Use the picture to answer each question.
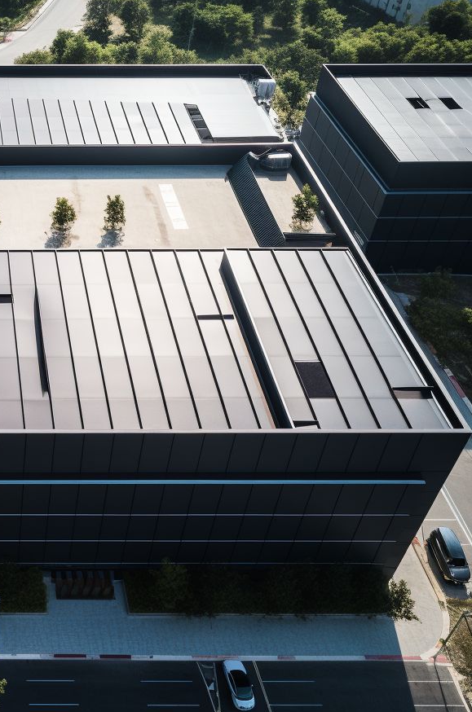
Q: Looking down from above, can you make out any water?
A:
No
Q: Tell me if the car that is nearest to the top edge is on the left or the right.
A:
right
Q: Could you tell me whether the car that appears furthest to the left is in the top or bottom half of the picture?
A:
bottom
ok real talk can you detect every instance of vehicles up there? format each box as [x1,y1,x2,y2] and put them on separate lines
[218,661,257,712]
[420,531,470,588]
